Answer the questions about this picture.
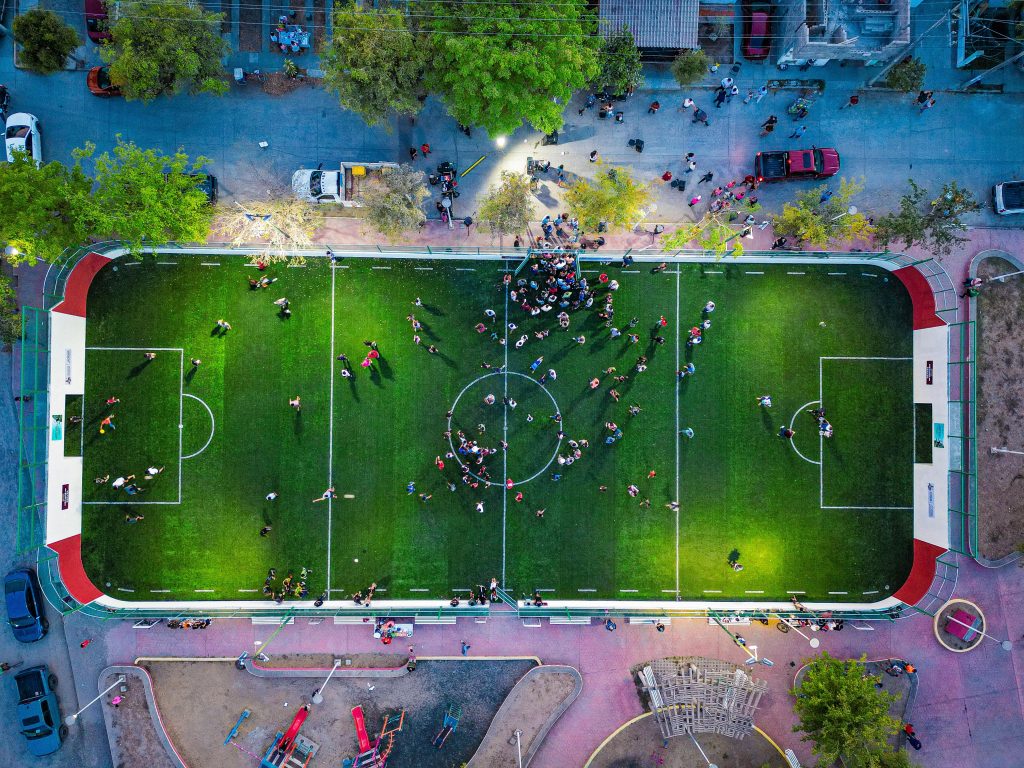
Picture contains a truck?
Yes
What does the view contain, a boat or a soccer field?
soccer field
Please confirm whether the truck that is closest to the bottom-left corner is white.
No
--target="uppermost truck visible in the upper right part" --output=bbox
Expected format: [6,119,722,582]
[738,0,775,73]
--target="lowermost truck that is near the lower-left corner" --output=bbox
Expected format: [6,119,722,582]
[18,658,72,756]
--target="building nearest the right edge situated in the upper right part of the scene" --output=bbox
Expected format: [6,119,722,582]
[777,0,916,68]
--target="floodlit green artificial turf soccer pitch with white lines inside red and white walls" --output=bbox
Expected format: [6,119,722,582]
[68,254,930,603]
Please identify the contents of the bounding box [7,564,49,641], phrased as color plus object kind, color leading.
blue car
